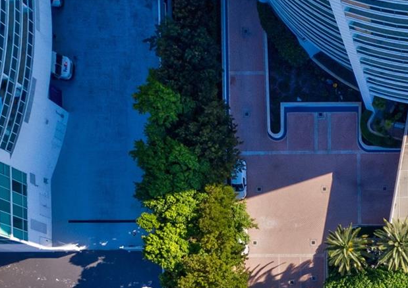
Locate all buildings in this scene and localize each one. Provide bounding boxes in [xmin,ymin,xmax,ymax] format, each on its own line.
[0,0,67,249]
[264,0,408,109]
